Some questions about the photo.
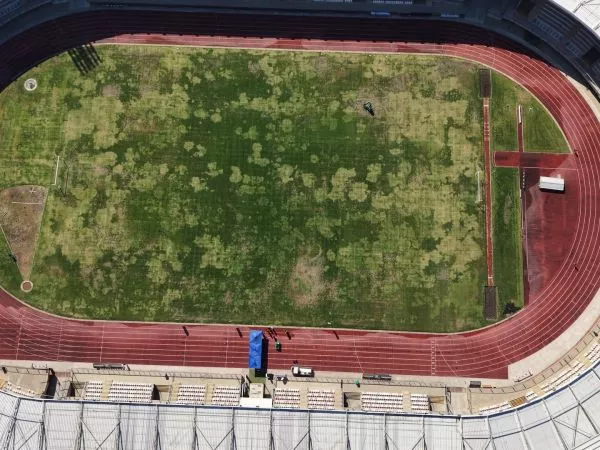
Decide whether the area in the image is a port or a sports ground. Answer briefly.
sports ground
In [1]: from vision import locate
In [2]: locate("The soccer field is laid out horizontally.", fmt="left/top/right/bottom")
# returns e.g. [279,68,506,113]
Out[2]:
[0,44,575,332]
